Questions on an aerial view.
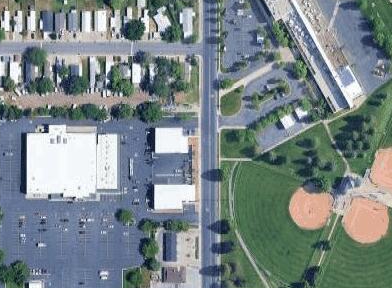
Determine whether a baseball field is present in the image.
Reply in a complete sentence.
Yes, there's a baseball field here.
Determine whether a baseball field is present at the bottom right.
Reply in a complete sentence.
Yes, a baseball field is visible at the bottom right.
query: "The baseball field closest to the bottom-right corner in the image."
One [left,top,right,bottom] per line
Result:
[314,196,392,288]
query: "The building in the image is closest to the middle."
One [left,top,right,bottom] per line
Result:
[154,128,189,153]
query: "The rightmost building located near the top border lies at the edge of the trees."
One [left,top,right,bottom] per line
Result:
[266,0,366,115]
